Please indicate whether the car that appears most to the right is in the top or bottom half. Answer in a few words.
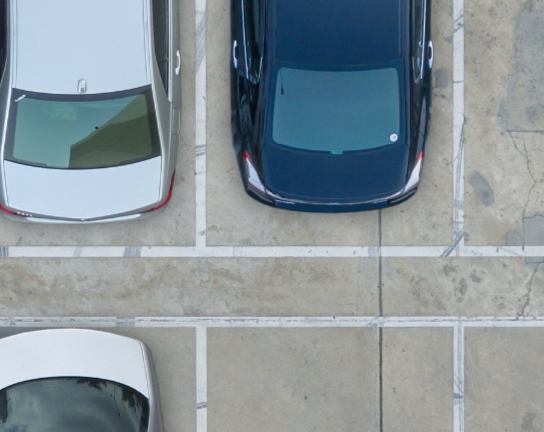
top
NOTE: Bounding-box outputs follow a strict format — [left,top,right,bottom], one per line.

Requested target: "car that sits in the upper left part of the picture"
[0,0,177,224]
